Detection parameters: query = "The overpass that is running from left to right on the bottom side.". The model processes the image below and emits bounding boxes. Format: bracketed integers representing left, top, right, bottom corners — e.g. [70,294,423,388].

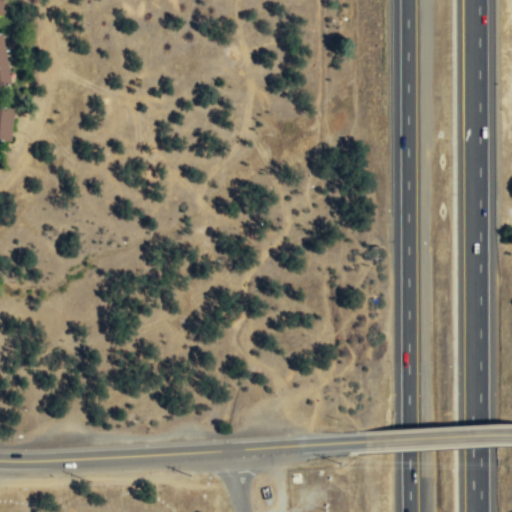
[349,424,512,454]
